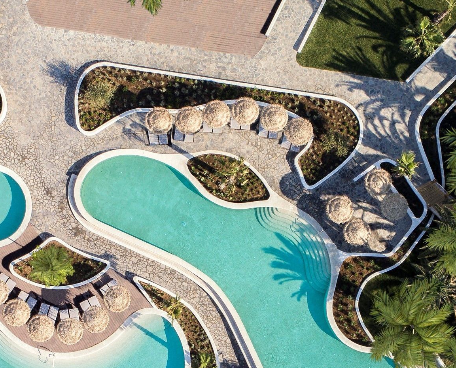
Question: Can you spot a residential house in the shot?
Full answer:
No, I can see no residential house in this picture.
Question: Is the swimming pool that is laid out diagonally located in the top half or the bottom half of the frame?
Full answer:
The swimming pool that is laid out diagonally sits in the bottom half of the picture.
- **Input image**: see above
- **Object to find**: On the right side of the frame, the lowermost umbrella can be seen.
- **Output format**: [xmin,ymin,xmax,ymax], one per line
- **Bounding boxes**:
[343,219,368,245]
